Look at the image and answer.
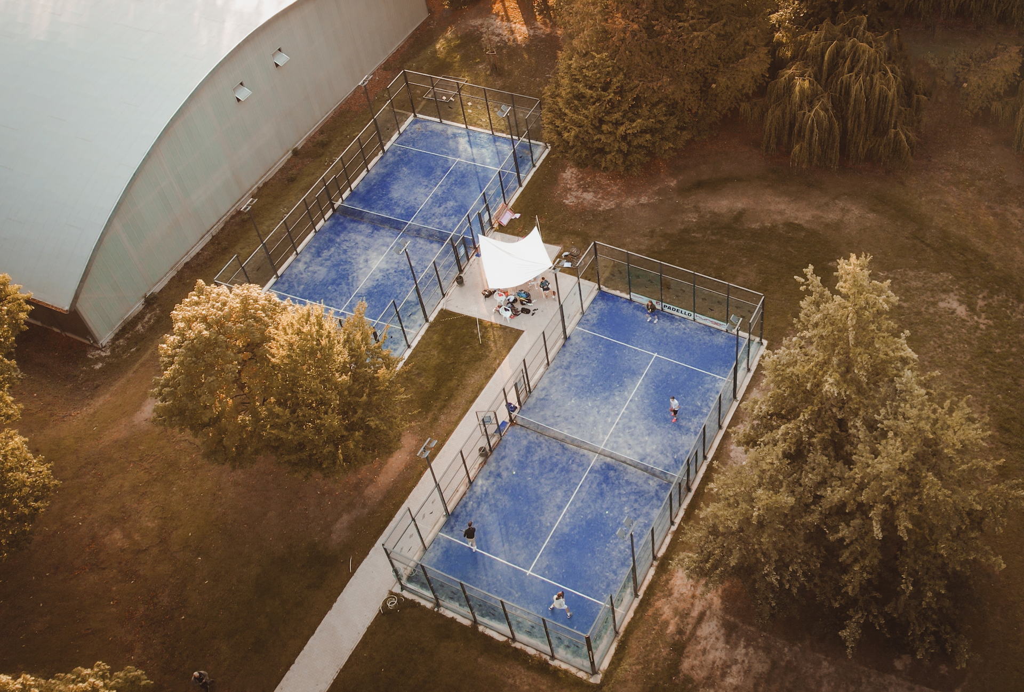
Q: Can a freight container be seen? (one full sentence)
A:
No, the scene contains no freight container.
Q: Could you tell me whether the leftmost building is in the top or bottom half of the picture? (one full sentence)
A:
The top half of the photo is where the leftmost building is.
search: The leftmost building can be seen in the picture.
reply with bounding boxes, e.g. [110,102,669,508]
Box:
[0,0,431,349]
